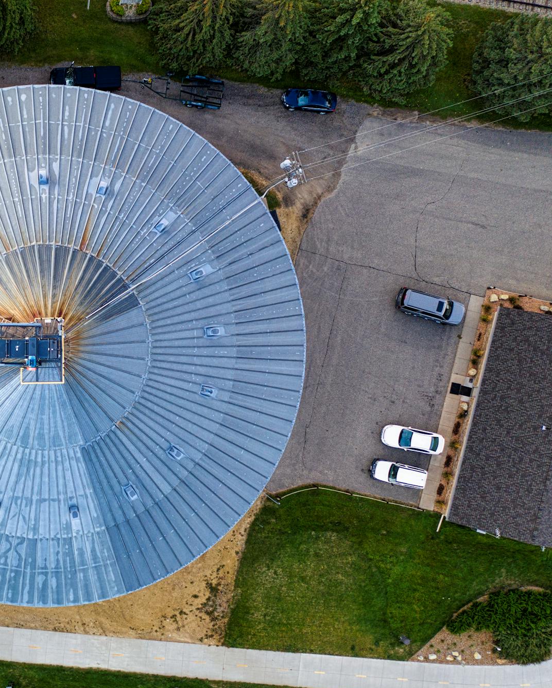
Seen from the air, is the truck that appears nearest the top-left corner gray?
No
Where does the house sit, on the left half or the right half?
right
